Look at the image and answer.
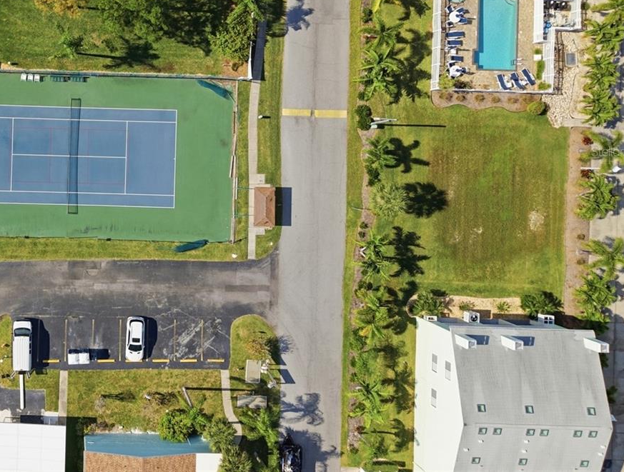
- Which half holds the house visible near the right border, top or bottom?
bottom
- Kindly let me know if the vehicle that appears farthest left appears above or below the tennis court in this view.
below it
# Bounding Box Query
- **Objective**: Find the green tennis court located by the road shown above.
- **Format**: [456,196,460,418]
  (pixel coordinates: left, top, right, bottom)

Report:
[0,73,239,243]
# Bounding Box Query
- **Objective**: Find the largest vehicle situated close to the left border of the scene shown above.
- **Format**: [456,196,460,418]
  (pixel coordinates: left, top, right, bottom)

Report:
[8,320,36,379]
